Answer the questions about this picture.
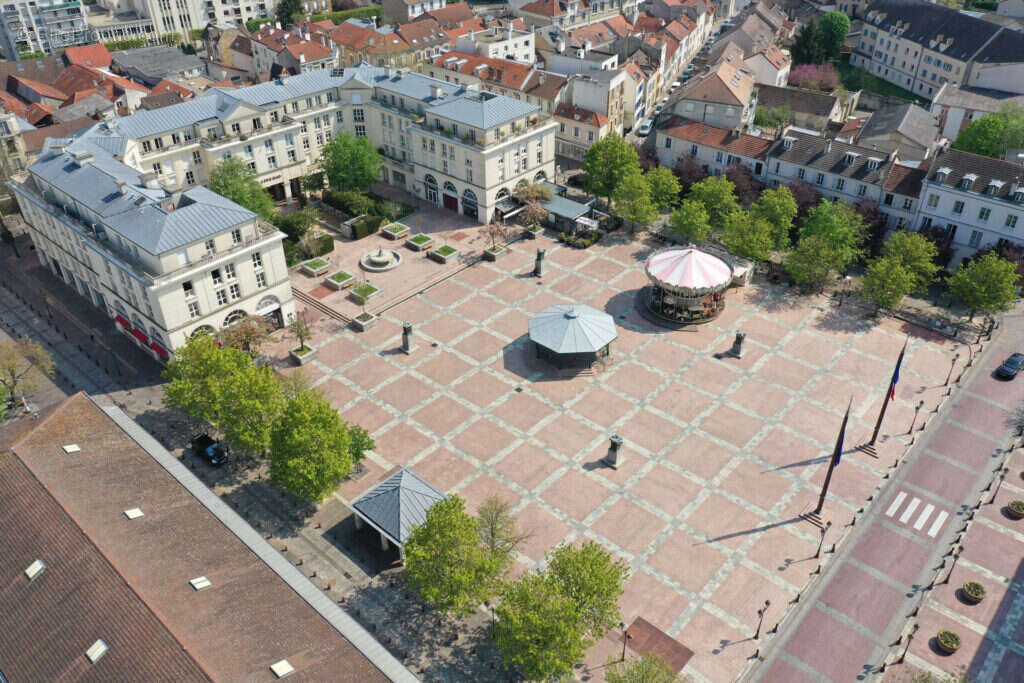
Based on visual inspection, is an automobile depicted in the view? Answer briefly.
Yes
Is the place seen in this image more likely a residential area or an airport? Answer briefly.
residential area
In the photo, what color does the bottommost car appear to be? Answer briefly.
black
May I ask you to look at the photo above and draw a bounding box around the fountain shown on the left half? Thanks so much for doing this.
[361,249,403,272]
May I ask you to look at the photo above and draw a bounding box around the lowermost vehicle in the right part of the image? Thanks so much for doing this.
[997,354,1024,383]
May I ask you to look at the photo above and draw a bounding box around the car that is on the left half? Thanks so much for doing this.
[193,434,226,467]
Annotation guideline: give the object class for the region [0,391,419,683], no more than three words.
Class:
building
